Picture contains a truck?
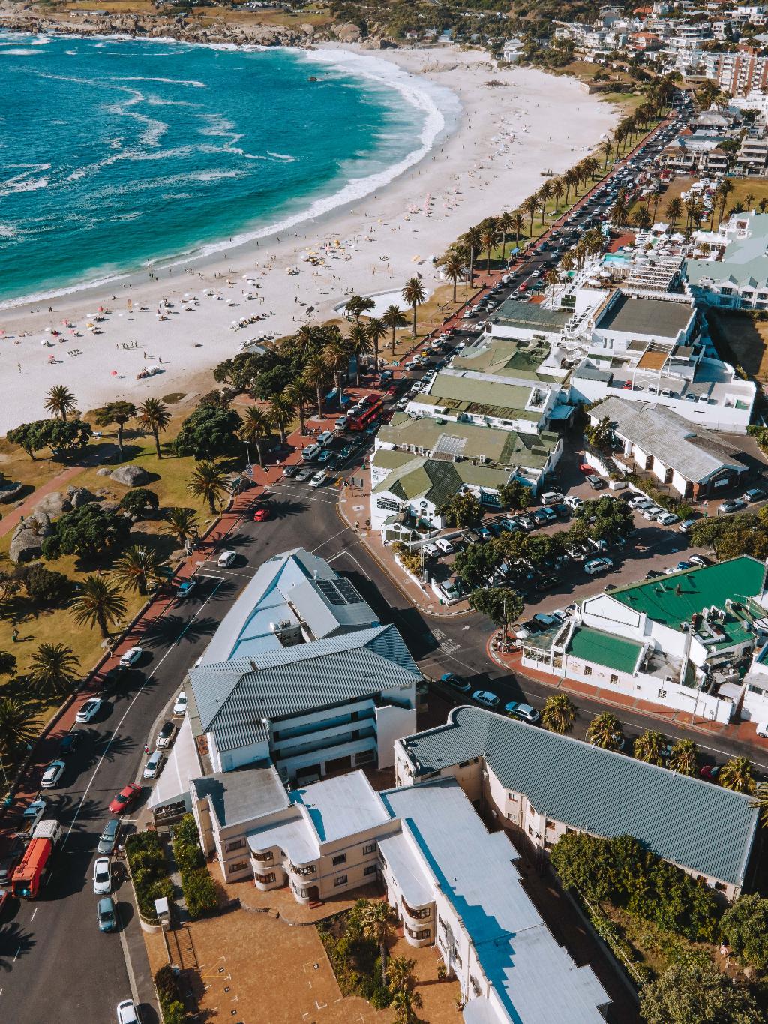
Yes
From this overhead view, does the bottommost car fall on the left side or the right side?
left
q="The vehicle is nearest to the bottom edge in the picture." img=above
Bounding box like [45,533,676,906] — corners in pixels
[113,986,143,1024]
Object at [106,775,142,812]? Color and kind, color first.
red car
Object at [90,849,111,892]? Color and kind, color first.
white car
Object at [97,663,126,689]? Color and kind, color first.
black car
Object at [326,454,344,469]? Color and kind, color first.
black car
